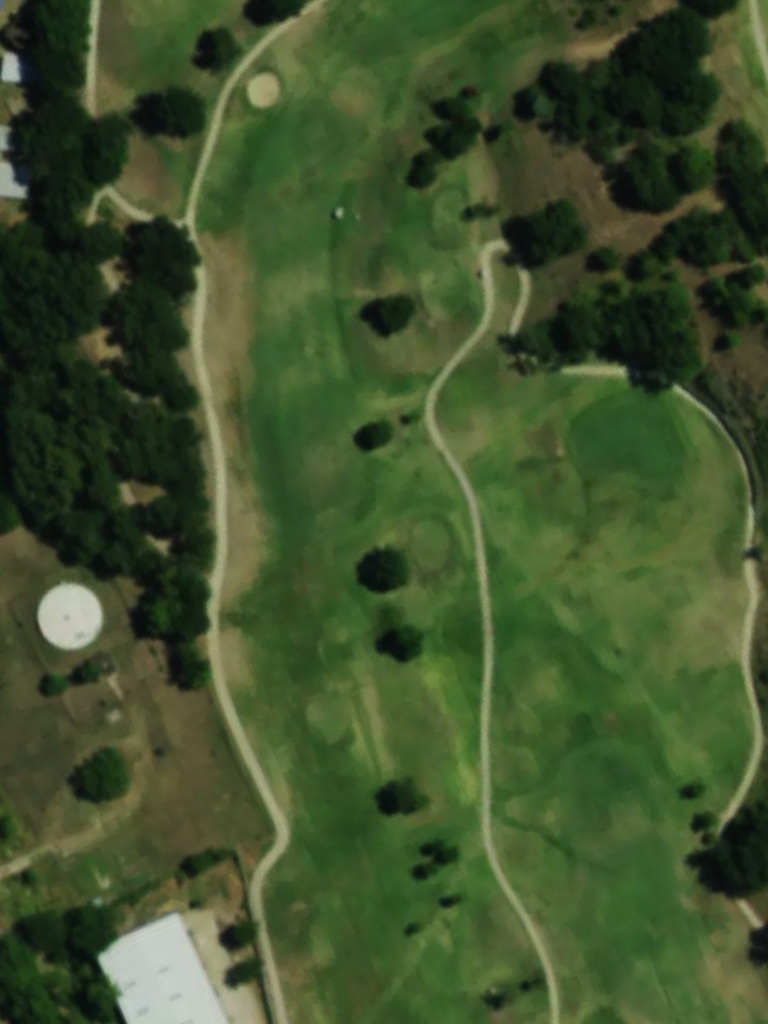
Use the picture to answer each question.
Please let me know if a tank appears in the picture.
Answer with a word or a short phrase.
Yes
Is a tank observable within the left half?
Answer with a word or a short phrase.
Yes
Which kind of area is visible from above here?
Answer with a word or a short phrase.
golf course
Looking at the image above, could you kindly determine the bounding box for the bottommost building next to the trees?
[95,914,231,1024]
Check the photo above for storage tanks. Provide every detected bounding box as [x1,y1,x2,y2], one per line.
[37,583,103,648]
